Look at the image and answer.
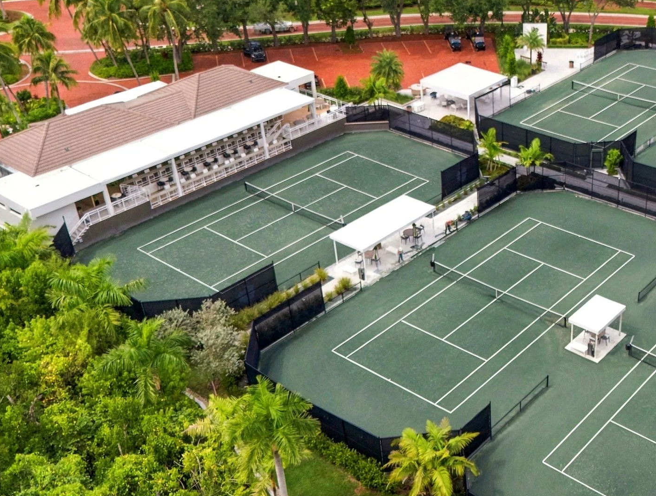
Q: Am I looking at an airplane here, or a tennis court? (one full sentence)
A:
The one in the frame is a tennis court.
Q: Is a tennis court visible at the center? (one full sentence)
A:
Yes, looking at the center, one can make out a tennis court.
